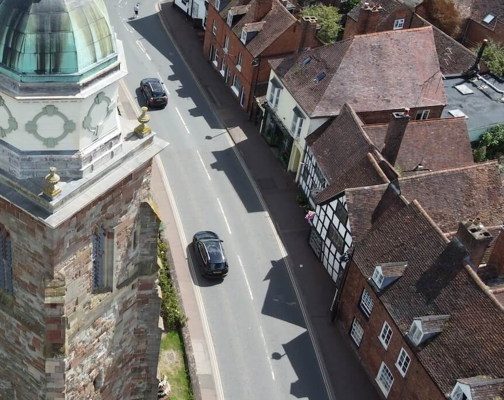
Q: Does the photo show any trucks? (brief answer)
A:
No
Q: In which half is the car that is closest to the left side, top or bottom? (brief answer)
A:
top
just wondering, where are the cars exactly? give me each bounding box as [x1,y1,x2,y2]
[193,234,235,283]
[141,77,171,105]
